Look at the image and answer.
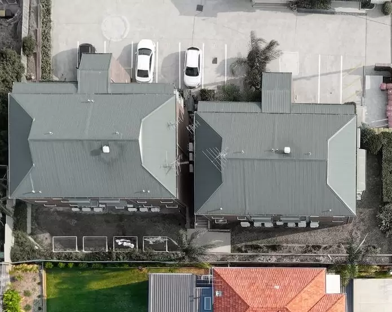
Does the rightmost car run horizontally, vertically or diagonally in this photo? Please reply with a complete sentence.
In this picture, the rightmost car is oriented vertically.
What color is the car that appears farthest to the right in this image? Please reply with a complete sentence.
The car that appears farthest to the right is white.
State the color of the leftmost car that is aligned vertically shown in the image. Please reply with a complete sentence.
The leftmost car that is aligned vertically is white.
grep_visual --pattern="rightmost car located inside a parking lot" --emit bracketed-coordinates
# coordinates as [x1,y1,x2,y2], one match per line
[182,47,203,89]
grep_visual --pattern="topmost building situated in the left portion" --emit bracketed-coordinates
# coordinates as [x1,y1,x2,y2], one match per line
[7,52,186,213]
